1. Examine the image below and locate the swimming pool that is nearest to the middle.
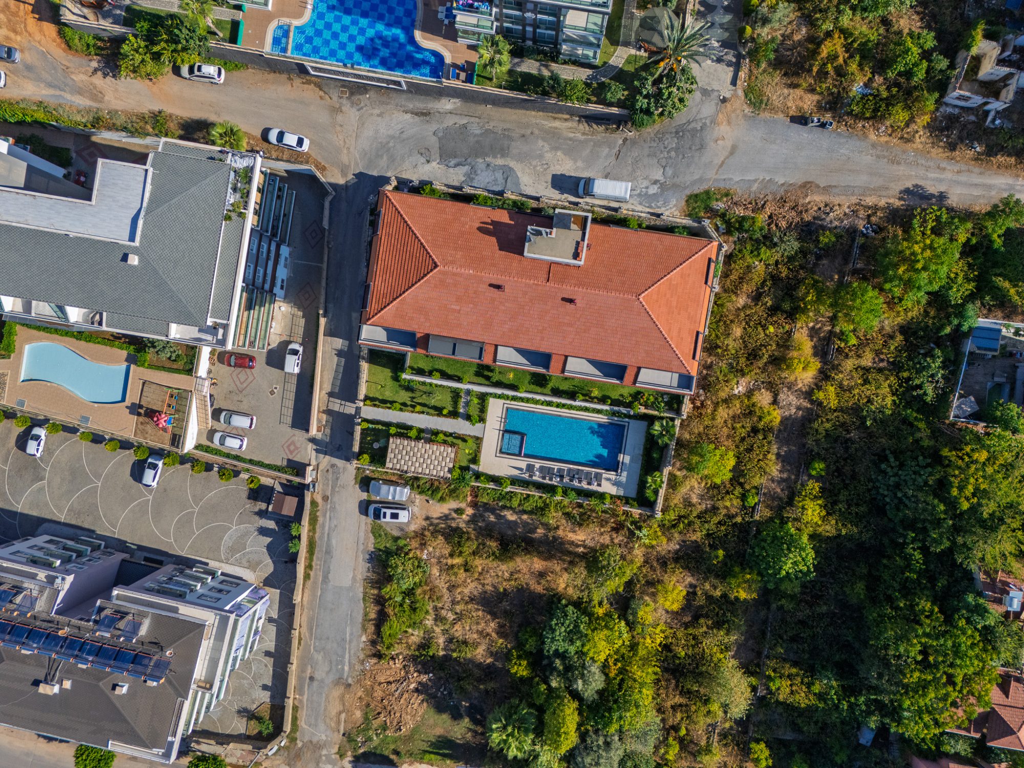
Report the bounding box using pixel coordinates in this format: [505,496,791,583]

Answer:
[492,402,631,477]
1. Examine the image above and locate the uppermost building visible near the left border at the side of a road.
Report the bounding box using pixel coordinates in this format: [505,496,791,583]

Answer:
[0,137,307,354]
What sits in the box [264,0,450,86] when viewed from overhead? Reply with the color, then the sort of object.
blue swimming pool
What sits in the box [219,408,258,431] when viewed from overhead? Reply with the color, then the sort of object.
white car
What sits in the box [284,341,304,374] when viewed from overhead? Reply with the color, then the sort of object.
white car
